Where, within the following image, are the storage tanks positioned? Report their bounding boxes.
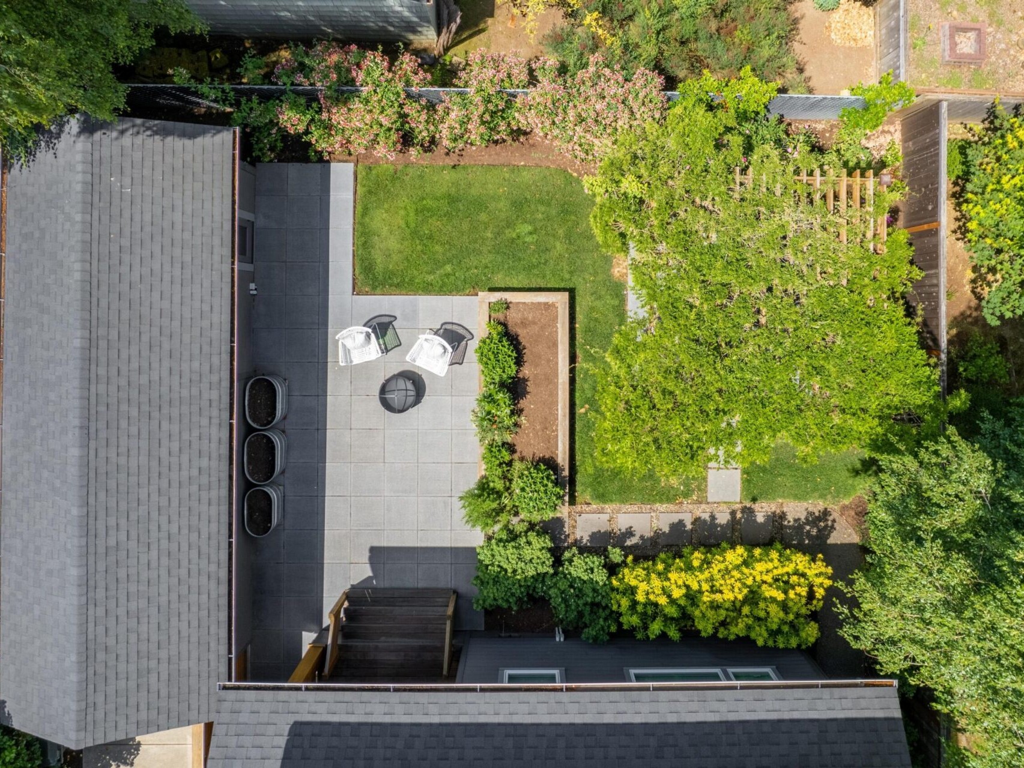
[244,485,284,537]
[244,431,286,484]
[245,376,286,429]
